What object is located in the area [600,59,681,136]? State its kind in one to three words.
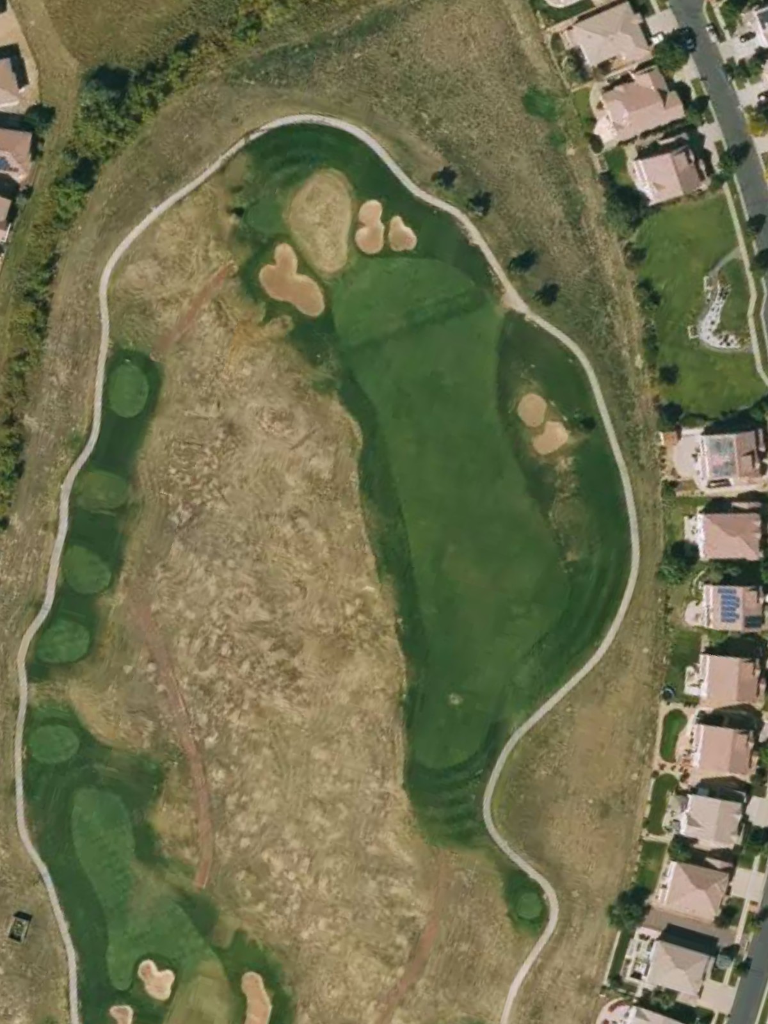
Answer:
house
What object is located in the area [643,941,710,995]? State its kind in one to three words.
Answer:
house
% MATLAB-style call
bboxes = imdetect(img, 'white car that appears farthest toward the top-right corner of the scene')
[705,26,717,42]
